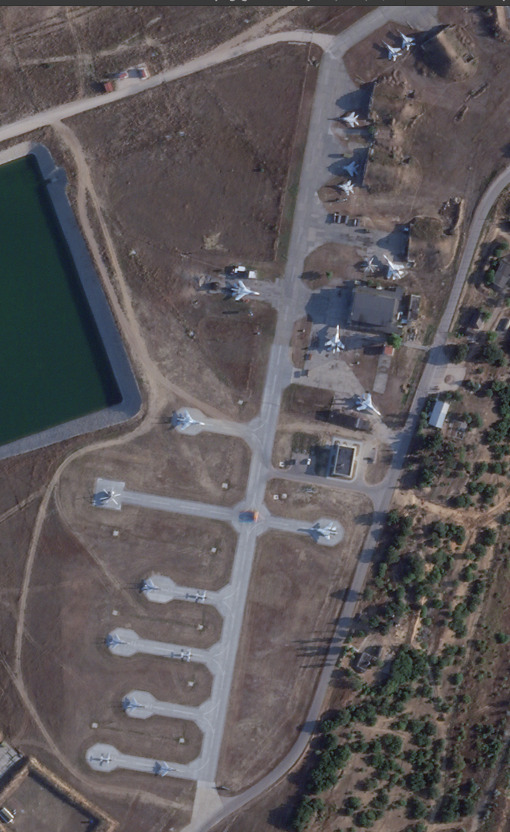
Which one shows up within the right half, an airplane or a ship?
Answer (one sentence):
There is an airplane within the right half.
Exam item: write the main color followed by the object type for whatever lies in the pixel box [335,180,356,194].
white airplane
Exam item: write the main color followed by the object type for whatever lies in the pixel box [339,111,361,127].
white airplane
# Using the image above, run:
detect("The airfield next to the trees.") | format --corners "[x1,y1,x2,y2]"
[89,0,438,780]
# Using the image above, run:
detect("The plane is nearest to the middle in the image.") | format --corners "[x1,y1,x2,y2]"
[175,411,205,431]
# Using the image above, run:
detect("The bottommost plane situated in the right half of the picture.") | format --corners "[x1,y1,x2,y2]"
[308,522,340,542]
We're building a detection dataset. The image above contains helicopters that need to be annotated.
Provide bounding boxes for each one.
[102,484,120,505]
[363,257,379,274]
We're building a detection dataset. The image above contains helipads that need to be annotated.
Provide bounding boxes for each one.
[93,478,125,510]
